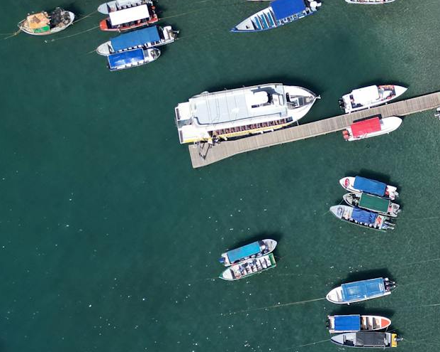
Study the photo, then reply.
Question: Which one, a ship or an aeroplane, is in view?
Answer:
ship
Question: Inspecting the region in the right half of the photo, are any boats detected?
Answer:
Yes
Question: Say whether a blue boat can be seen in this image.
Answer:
Yes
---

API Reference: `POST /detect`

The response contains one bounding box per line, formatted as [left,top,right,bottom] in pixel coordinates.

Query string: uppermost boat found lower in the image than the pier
[339,177,403,201]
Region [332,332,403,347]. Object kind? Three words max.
boat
